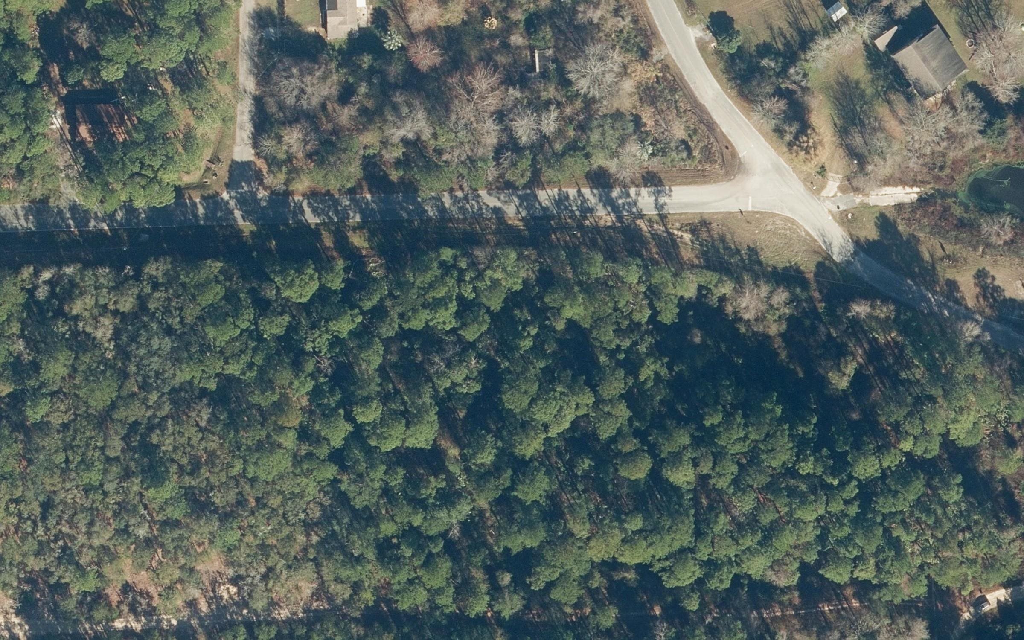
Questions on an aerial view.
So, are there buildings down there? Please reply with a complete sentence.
Yes, a building can be made out from above.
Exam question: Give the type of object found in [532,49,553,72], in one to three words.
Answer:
shed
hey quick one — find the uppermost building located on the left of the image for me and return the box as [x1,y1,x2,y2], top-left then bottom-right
[326,0,366,38]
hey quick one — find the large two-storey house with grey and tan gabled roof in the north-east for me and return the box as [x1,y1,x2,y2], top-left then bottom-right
[875,24,967,99]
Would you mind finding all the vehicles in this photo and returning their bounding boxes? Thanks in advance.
[977,594,994,615]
